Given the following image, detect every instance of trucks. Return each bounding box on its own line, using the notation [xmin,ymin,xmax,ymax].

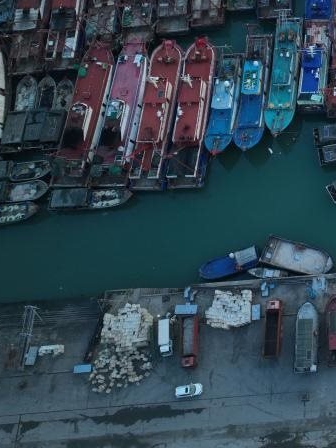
[262,300,284,358]
[177,315,202,370]
[156,314,178,360]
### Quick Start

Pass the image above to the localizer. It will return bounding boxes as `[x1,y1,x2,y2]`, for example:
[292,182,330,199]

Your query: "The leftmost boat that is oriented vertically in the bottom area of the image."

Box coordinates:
[291,300,322,374]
